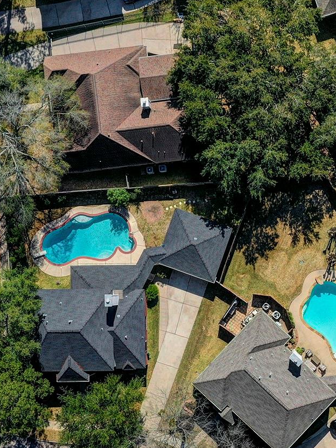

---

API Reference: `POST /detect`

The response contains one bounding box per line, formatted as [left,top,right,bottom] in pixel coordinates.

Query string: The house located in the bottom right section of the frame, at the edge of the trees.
[192,310,336,448]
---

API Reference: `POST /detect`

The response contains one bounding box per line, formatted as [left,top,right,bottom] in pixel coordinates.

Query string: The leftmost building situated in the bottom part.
[37,208,233,382]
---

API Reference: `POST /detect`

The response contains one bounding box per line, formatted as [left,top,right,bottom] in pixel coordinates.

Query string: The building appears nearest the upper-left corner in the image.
[43,45,186,174]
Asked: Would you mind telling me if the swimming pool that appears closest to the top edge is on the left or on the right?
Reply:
left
